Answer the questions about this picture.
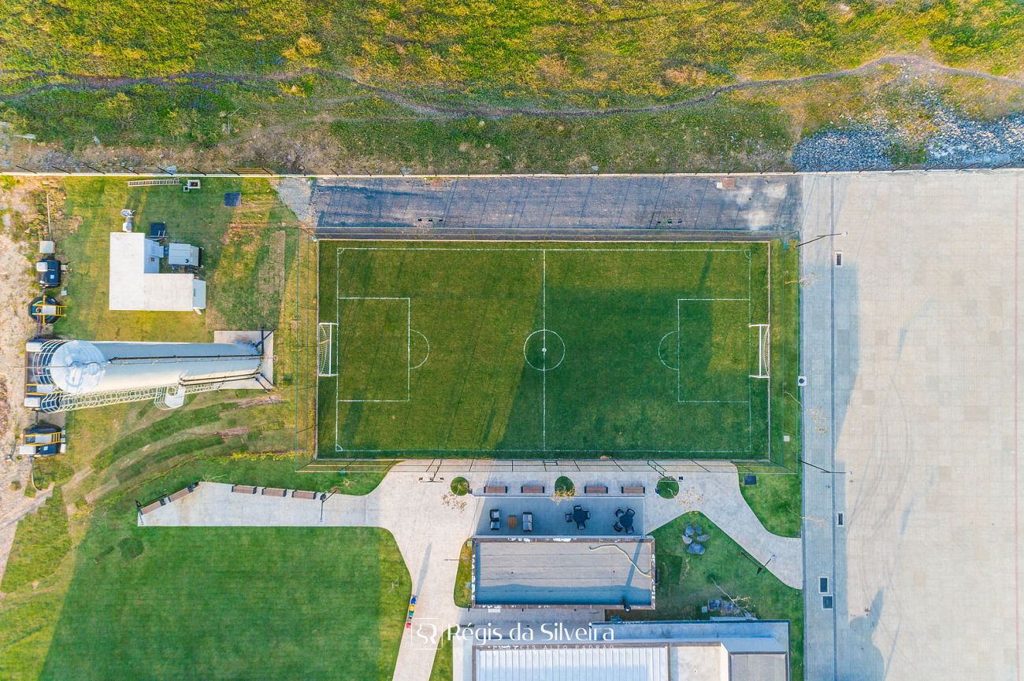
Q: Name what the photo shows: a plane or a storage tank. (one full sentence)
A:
This aerial view contains a storage tank.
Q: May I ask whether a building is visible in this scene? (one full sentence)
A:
Yes, a building appears in the view.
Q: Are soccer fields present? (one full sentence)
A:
Yes, a soccer field can be made out from above.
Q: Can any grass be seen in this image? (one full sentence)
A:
Yes, grass shows up in the scene.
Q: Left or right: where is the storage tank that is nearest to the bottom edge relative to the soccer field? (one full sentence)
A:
To the left of the soccer field is where the storage tank that is nearest to the bottom edge appears.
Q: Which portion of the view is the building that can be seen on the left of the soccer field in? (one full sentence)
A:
The building that can be seen on the left of the soccer field sits in the left section of the image.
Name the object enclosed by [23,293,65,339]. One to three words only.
storage tank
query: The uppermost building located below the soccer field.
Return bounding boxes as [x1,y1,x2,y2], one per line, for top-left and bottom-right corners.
[473,536,655,613]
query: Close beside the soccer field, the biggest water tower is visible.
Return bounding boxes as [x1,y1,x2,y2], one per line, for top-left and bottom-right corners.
[13,325,279,412]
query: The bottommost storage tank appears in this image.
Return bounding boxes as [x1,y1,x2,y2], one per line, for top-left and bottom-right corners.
[10,428,63,488]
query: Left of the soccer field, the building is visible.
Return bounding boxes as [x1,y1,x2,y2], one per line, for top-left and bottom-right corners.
[109,232,207,312]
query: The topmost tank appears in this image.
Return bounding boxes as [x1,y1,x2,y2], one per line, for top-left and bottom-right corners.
[24,260,61,288]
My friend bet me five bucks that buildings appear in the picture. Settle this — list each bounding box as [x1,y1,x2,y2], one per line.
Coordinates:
[473,536,655,613]
[109,232,207,312]
[473,615,789,681]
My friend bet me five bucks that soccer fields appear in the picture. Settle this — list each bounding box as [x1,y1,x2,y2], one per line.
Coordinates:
[316,237,771,462]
